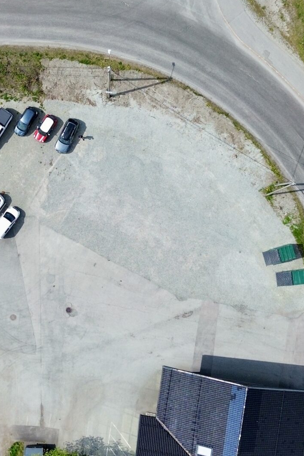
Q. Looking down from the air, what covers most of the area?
paved ground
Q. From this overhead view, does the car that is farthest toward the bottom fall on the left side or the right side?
left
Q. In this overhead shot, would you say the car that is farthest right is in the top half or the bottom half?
top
